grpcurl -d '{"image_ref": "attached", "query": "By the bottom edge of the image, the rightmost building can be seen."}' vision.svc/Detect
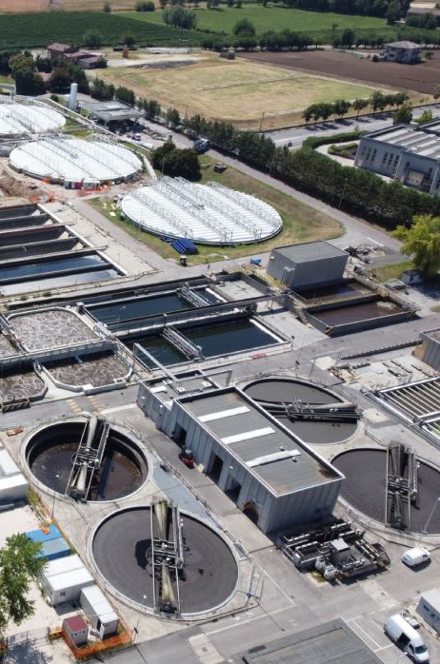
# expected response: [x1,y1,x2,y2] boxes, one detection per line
[417,589,440,631]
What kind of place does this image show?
industrial area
